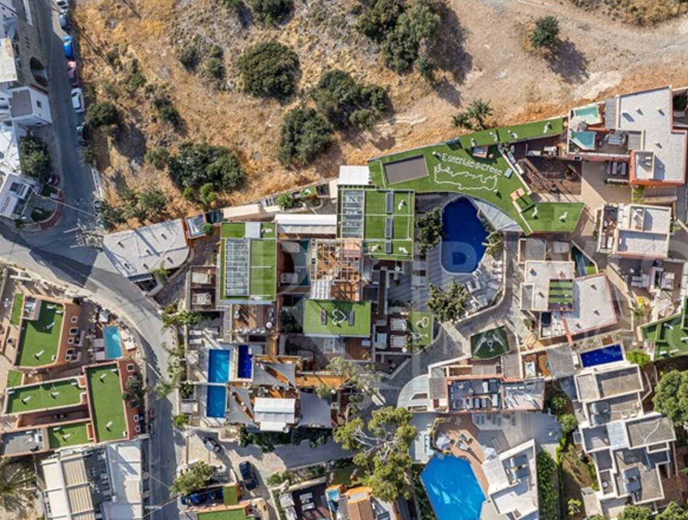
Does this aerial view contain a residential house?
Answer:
Yes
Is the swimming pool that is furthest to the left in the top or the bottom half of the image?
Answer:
bottom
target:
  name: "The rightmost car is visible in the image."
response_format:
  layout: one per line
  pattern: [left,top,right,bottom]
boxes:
[239,460,257,491]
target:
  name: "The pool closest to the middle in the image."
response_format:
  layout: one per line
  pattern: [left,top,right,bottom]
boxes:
[290,239,311,289]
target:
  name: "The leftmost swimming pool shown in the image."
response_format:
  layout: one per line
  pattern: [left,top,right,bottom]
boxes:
[102,324,124,361]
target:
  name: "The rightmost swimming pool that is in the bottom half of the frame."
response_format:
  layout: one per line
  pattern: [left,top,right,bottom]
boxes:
[578,340,628,369]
